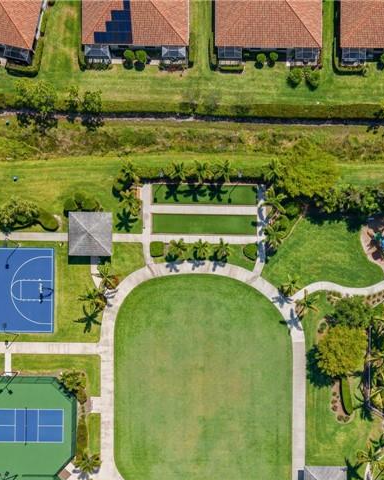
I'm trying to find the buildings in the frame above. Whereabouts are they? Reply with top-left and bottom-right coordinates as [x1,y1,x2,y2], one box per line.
[340,0,384,73]
[304,466,347,480]
[0,0,45,72]
[215,0,322,73]
[81,0,189,71]
[68,211,114,257]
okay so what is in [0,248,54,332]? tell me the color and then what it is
blue basketball court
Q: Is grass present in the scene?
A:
Yes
